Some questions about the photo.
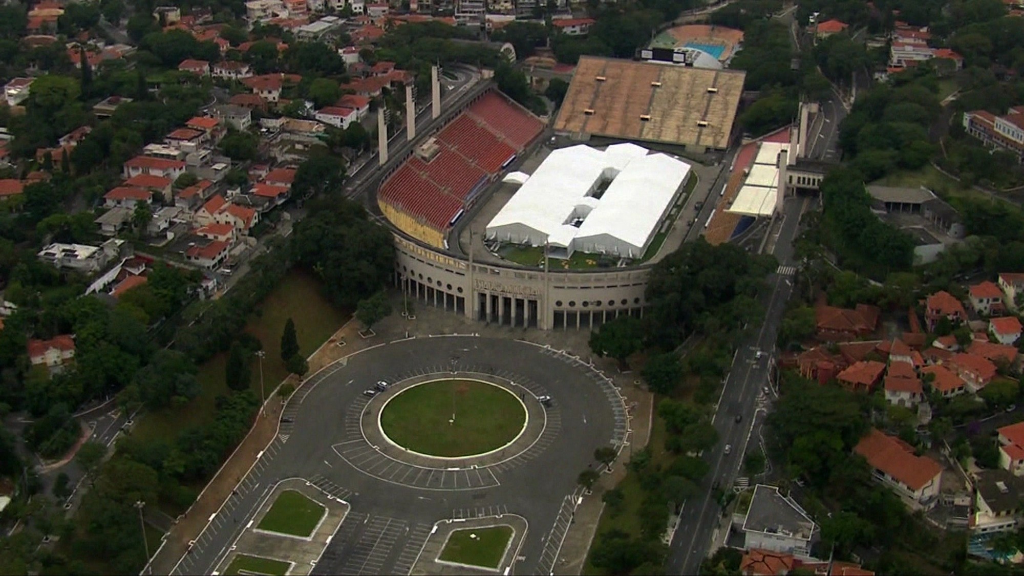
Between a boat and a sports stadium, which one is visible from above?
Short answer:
sports stadium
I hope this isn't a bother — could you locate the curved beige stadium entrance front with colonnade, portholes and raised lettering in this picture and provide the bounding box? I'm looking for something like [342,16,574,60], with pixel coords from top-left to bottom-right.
[378,198,734,332]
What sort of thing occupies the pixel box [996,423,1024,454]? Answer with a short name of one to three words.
house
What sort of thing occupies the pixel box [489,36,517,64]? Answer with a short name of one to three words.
building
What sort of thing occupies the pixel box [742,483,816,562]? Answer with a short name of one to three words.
building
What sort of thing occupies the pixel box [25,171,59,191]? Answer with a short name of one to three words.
house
